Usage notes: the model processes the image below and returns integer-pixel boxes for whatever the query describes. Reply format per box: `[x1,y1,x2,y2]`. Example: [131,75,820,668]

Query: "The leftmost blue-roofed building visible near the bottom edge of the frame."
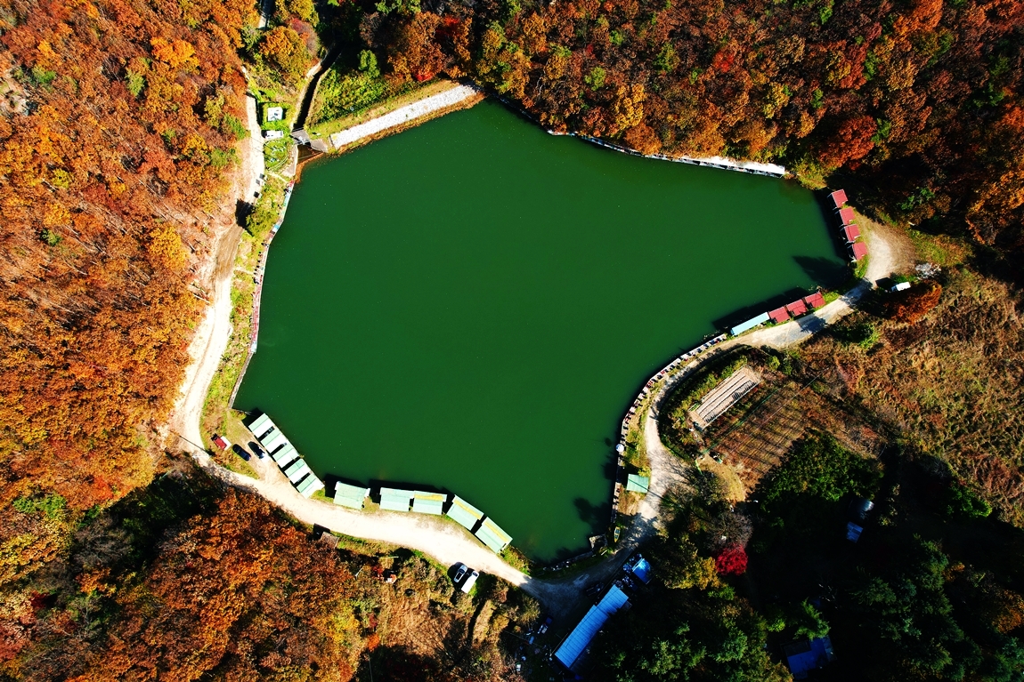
[554,582,628,666]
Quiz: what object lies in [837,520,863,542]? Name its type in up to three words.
shed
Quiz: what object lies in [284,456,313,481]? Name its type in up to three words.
shed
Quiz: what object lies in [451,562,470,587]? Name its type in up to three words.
car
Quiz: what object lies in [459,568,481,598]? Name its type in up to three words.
vehicle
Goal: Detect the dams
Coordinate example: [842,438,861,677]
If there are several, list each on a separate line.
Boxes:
[329,85,476,148]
